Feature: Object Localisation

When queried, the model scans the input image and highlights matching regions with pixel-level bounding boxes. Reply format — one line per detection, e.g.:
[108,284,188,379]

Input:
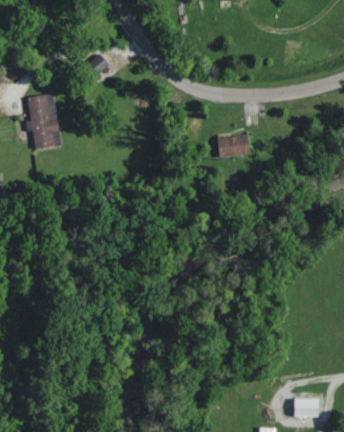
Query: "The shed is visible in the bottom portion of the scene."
[294,398,319,418]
